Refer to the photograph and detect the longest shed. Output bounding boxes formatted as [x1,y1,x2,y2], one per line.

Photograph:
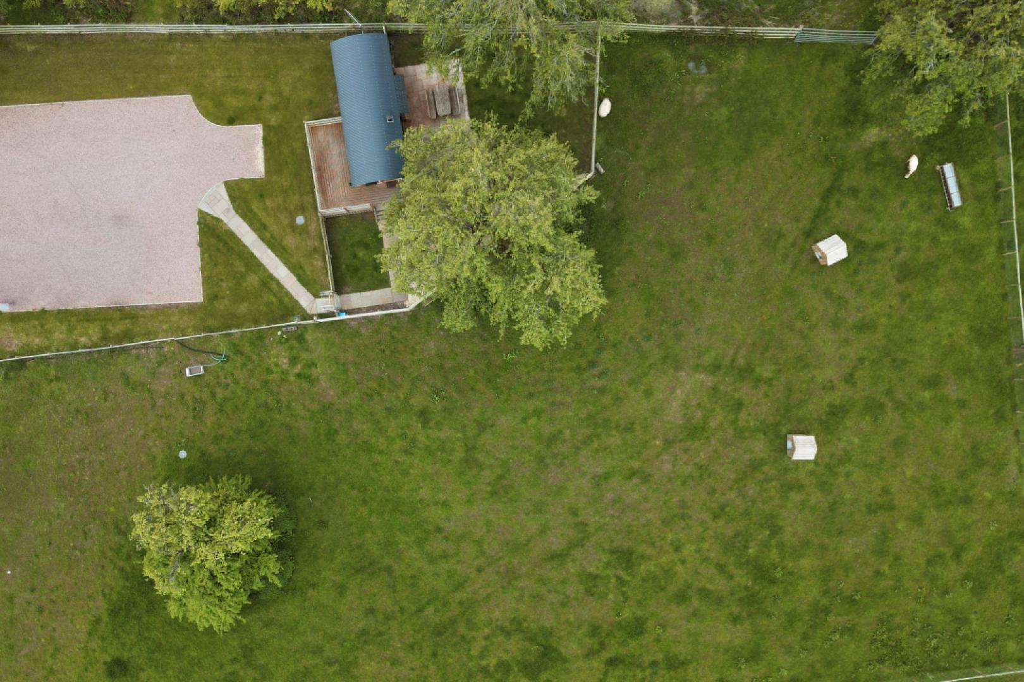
[329,34,409,185]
